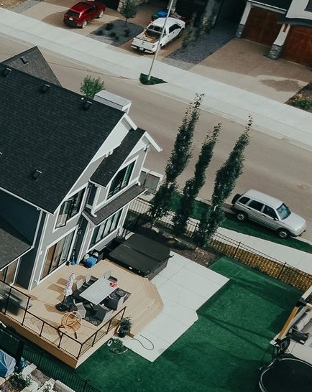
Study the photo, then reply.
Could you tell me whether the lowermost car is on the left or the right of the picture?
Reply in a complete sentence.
It is on the right.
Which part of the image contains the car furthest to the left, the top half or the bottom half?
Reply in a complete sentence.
Seen from above, the car furthest to the left lies in the top half of the view.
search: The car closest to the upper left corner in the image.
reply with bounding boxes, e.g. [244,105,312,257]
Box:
[64,0,108,25]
